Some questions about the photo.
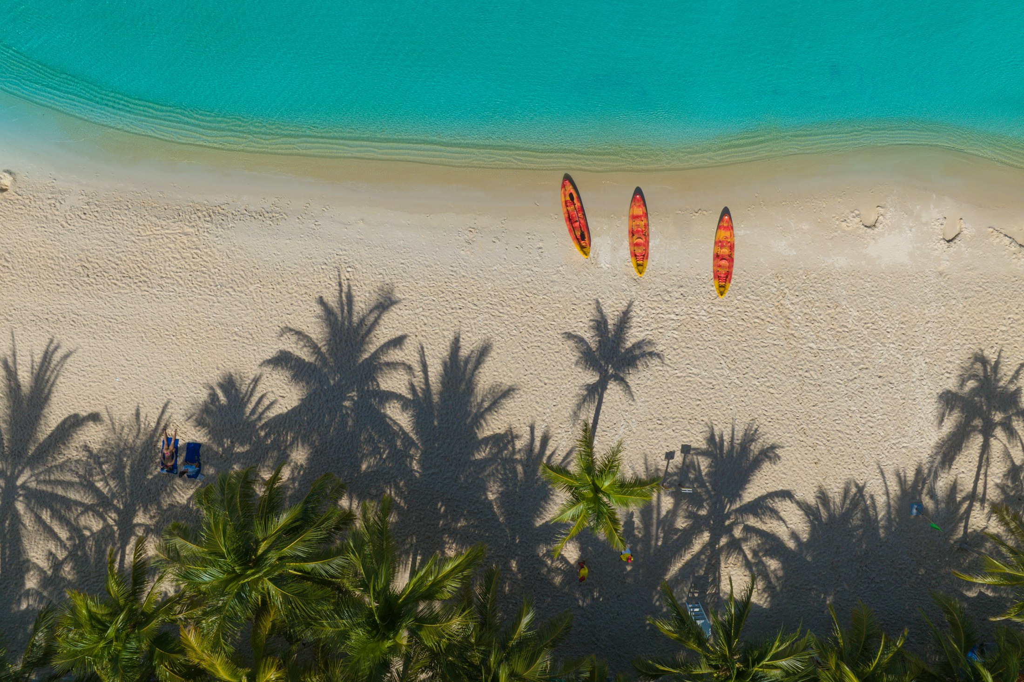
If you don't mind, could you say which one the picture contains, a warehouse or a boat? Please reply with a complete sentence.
This aerial view contains a boat.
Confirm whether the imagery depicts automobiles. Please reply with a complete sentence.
No, the photo shows no automobile.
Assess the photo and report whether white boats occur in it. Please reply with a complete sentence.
No, the photo shows no white boat.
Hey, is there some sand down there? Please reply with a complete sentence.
Yes, there is sand in the image.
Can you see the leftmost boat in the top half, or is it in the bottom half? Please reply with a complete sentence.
Seen from above, the leftmost boat lies in the top half of the view.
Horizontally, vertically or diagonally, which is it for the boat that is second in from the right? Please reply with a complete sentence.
Seen from above, the boat that is second in from the right lies vertically.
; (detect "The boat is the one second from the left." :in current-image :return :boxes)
[629,193,650,278]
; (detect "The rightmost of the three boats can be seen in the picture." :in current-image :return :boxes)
[712,213,734,298]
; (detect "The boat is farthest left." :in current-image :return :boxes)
[561,177,590,260]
